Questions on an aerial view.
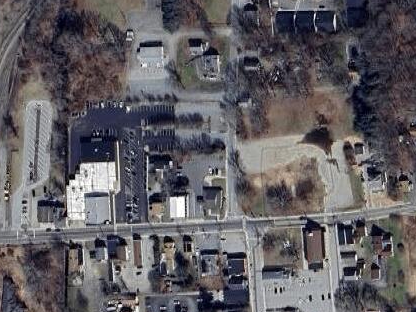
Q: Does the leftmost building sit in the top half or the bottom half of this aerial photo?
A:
bottom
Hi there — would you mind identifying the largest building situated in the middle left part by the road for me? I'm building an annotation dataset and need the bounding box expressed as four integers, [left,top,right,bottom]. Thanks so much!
[66,137,117,220]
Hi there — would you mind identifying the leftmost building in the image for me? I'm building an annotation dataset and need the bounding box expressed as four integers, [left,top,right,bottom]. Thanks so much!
[38,201,64,223]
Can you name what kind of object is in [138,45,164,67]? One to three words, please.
building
